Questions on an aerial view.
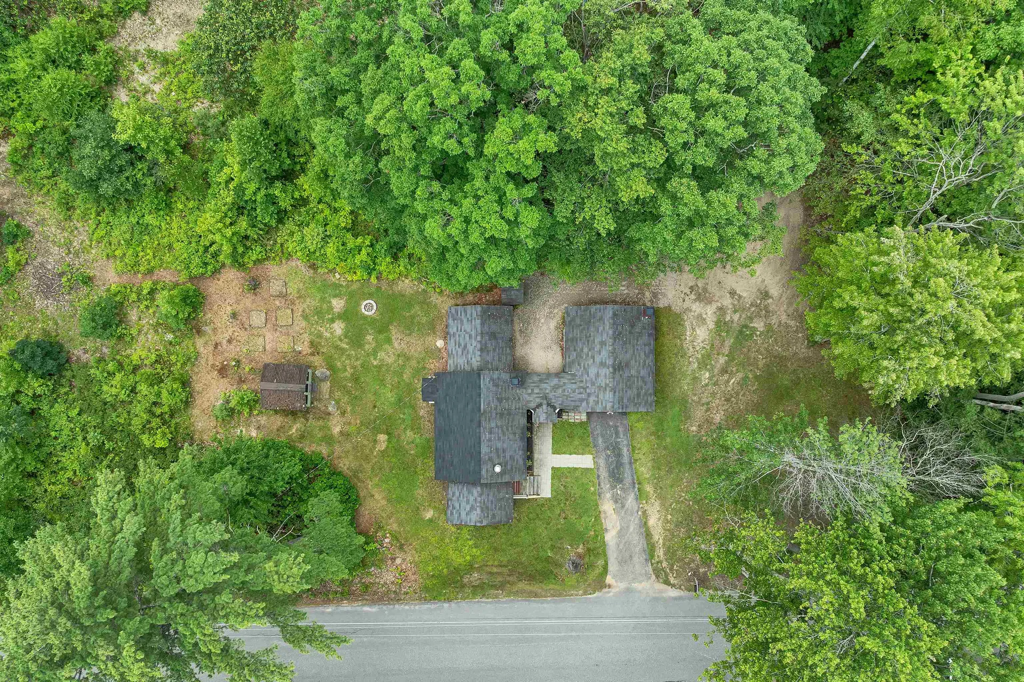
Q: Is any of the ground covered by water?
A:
No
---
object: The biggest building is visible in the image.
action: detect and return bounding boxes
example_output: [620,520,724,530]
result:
[421,305,655,527]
